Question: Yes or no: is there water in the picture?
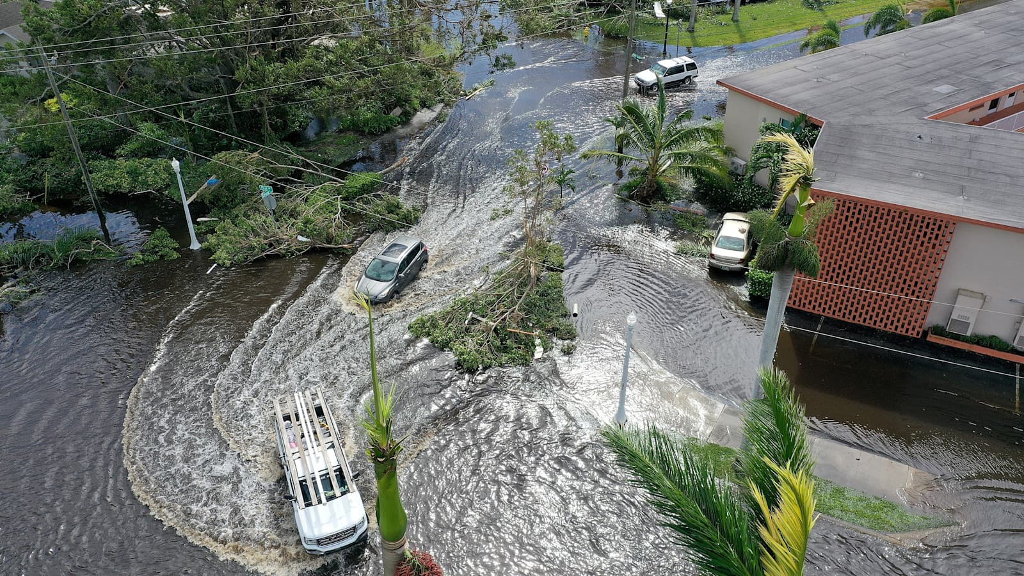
Yes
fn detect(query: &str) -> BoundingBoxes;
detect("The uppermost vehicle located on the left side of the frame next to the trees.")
[350,237,429,313]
